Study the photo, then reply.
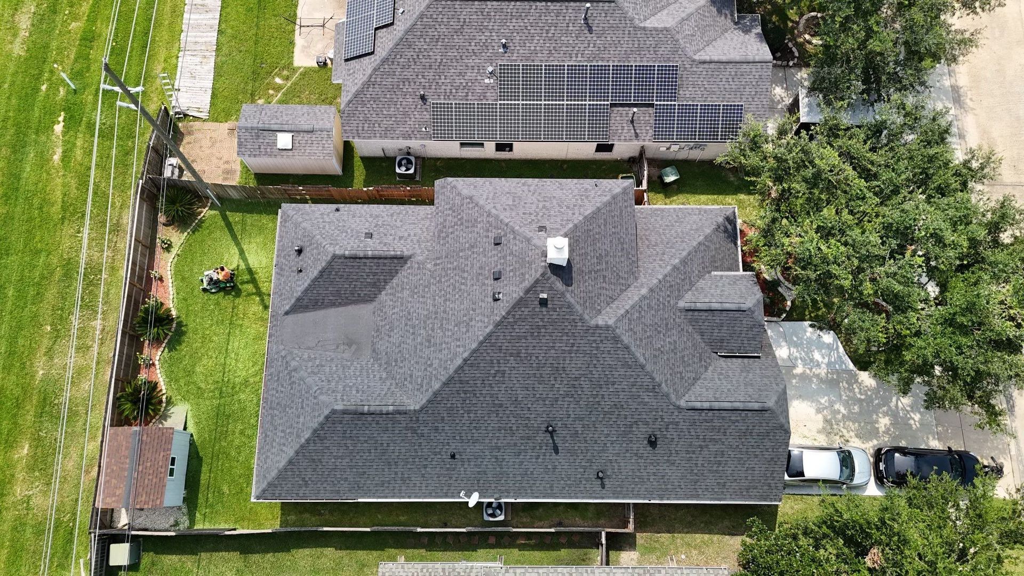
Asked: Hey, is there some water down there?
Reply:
No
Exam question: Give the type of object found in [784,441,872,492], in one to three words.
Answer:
car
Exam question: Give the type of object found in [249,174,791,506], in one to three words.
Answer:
house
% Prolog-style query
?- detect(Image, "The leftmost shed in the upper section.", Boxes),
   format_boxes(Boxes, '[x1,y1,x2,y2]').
[236,105,344,174]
